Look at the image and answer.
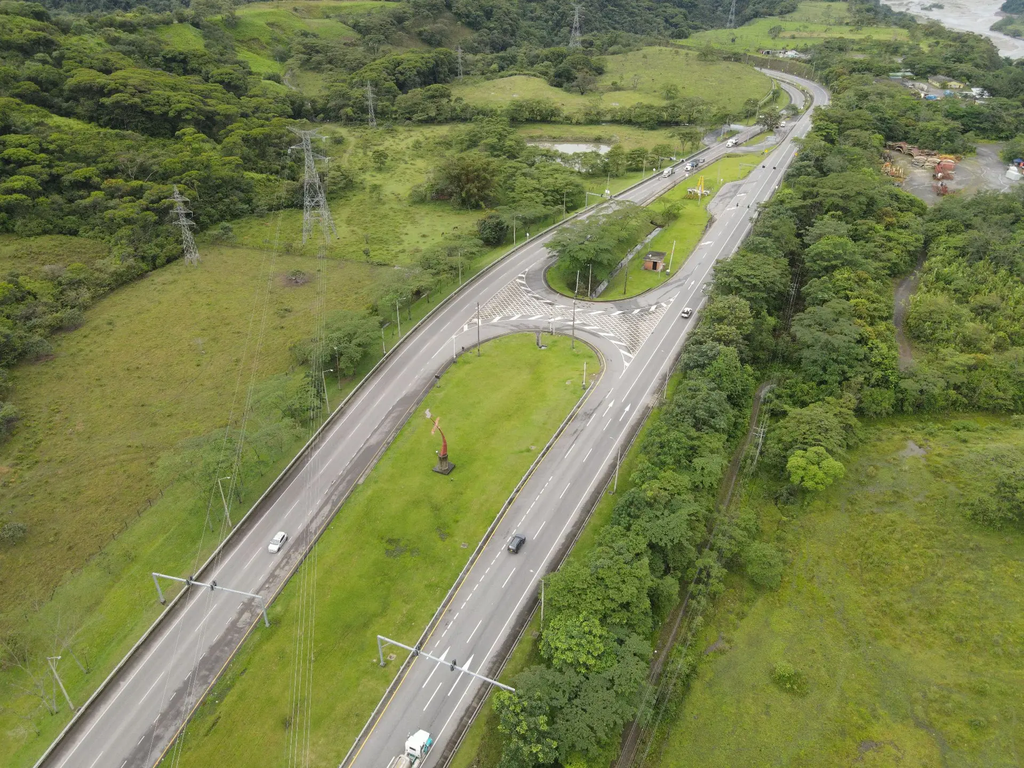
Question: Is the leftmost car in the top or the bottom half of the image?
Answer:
bottom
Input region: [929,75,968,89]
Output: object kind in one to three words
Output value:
house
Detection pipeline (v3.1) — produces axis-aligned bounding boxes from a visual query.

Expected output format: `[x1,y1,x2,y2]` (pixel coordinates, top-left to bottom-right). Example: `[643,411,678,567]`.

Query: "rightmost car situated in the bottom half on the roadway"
[505,533,526,555]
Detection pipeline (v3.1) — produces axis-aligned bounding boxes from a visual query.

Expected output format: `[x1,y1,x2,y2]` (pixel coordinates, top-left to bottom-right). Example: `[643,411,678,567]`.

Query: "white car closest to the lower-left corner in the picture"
[265,528,289,553]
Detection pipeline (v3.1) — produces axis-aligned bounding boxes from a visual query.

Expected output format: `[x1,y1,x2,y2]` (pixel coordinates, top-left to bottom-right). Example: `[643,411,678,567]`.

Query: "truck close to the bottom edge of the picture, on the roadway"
[392,727,435,768]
